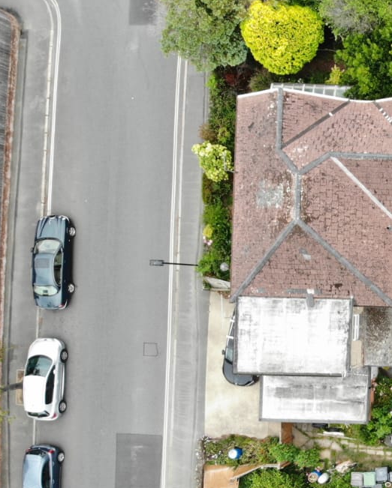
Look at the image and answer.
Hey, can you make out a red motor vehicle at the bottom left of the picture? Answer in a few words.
No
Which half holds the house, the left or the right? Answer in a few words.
right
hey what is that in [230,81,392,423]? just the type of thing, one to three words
house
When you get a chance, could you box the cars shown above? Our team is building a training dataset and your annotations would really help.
[23,442,69,488]
[219,304,264,388]
[21,336,72,421]
[28,215,80,311]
